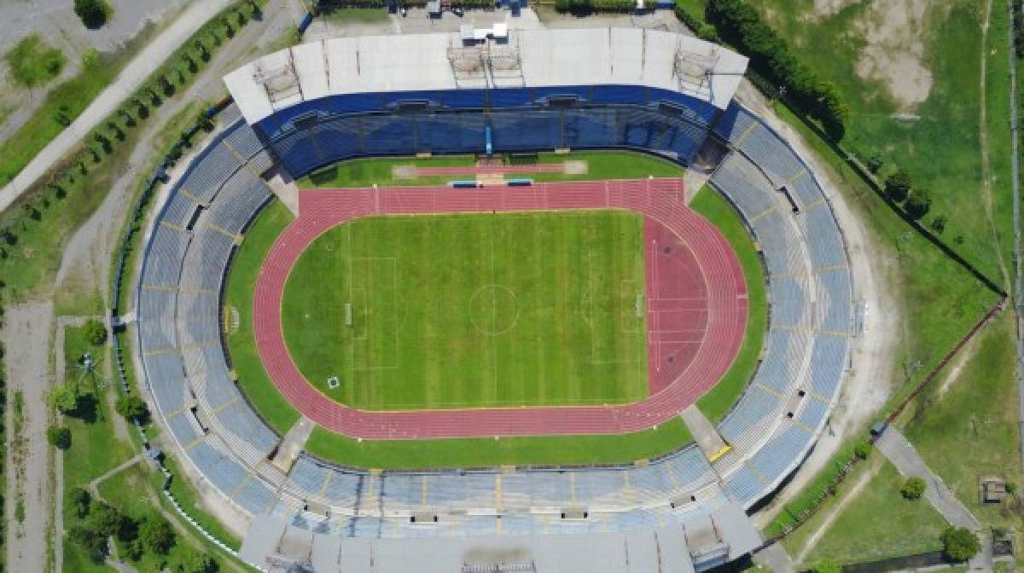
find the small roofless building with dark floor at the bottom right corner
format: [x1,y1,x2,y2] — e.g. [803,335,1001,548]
[990,530,1018,557]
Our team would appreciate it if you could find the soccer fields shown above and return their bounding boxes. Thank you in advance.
[348,210,645,409]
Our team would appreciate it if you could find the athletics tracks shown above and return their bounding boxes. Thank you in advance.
[253,178,749,440]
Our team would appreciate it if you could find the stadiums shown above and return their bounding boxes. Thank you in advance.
[135,22,867,573]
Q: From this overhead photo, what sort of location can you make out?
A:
sports ground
